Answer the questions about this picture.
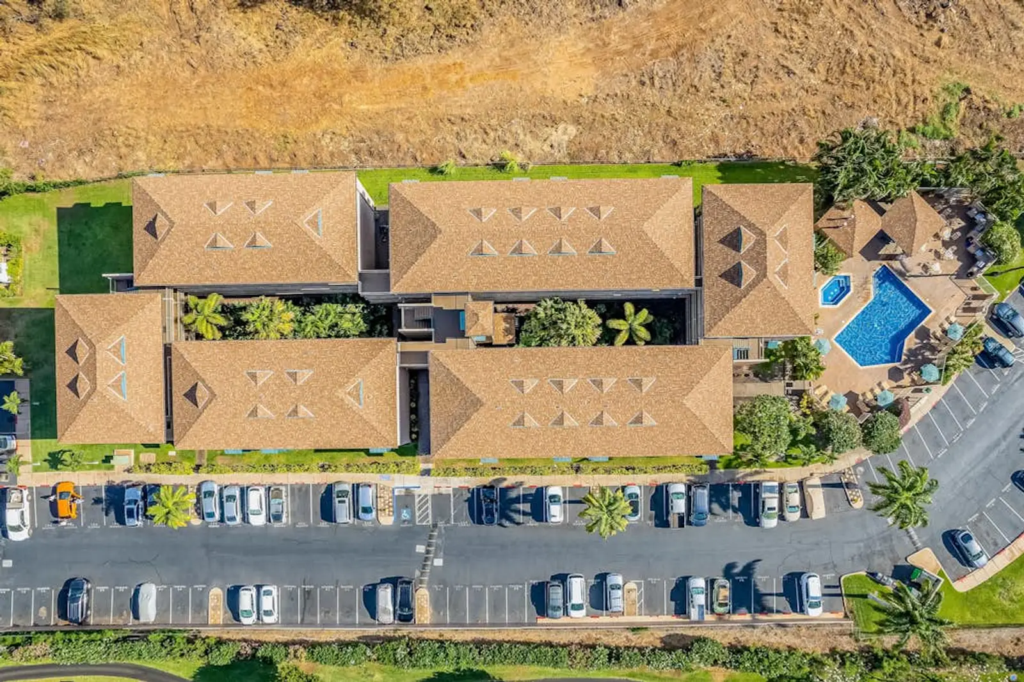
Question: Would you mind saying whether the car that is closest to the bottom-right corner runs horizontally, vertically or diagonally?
diagonally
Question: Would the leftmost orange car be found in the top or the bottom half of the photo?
bottom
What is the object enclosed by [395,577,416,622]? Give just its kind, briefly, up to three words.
vehicle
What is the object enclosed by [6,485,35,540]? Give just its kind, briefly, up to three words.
truck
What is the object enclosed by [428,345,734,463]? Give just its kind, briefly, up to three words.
building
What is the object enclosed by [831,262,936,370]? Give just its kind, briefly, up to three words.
swimming pool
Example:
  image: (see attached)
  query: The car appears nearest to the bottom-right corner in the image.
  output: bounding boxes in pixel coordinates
[949,525,987,569]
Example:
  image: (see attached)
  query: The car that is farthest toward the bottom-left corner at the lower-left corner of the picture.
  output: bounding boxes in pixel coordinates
[67,576,94,622]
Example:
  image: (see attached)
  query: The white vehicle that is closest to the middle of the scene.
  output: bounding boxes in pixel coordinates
[544,485,564,522]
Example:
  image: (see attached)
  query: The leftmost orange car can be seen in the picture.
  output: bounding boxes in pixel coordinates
[48,481,90,519]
